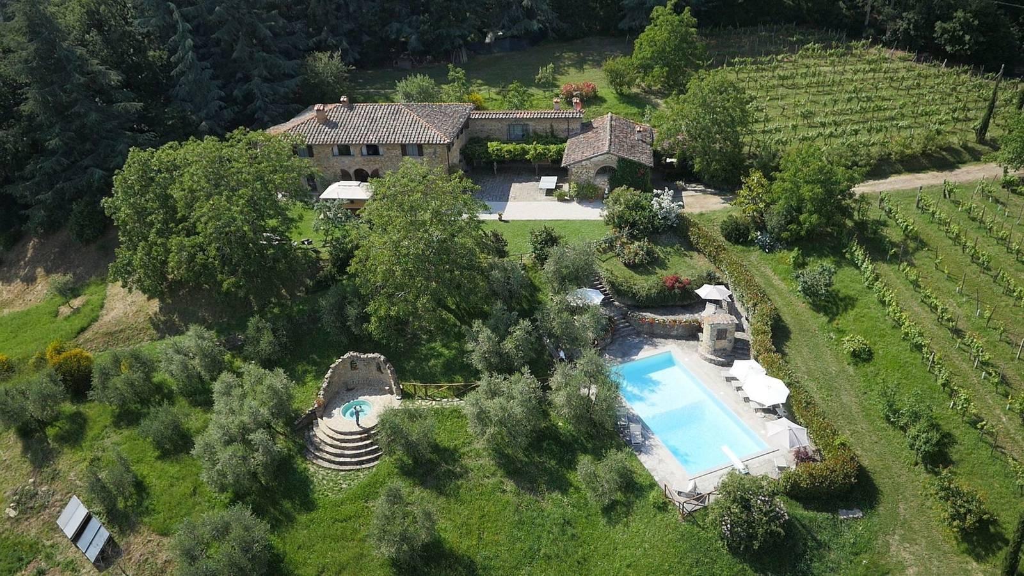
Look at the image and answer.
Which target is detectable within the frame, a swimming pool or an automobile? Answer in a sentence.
Looking from above, you can make out a swimming pool.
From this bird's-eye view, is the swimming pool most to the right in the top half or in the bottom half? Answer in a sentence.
The bottom half of the photo is where the swimming pool most to the right is.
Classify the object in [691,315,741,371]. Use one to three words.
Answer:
shed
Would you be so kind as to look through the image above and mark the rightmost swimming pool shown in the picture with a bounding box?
[592,347,779,484]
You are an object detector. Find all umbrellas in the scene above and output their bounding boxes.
[770,416,816,455]
[728,359,766,382]
[569,287,605,307]
[690,467,698,496]
[741,375,790,417]
[695,285,730,312]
